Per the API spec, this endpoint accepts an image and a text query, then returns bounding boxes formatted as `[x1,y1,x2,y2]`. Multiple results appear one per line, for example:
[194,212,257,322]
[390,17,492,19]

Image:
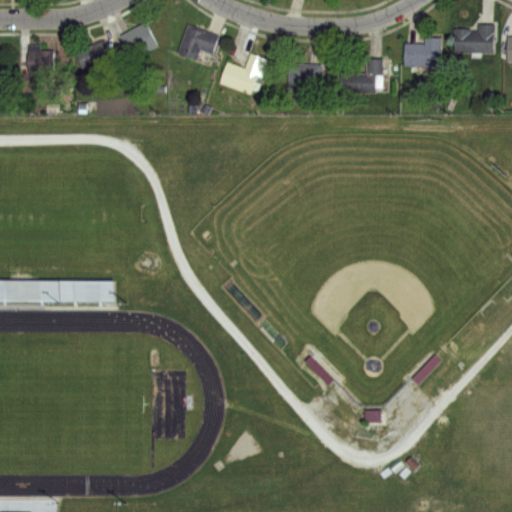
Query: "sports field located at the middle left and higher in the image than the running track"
[0,151,150,276]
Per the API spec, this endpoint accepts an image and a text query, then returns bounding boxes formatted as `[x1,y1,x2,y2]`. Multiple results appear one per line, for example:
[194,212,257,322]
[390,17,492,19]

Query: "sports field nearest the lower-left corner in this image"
[0,332,203,474]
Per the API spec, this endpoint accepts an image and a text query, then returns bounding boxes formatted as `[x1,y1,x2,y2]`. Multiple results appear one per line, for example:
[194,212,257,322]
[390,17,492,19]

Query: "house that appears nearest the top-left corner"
[28,44,56,78]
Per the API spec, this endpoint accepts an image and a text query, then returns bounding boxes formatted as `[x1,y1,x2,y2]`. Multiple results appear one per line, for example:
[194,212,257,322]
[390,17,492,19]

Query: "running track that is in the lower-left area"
[0,310,226,497]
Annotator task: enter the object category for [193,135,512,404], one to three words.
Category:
baseball field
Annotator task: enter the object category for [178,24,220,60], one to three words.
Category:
house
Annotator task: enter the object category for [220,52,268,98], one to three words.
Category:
house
